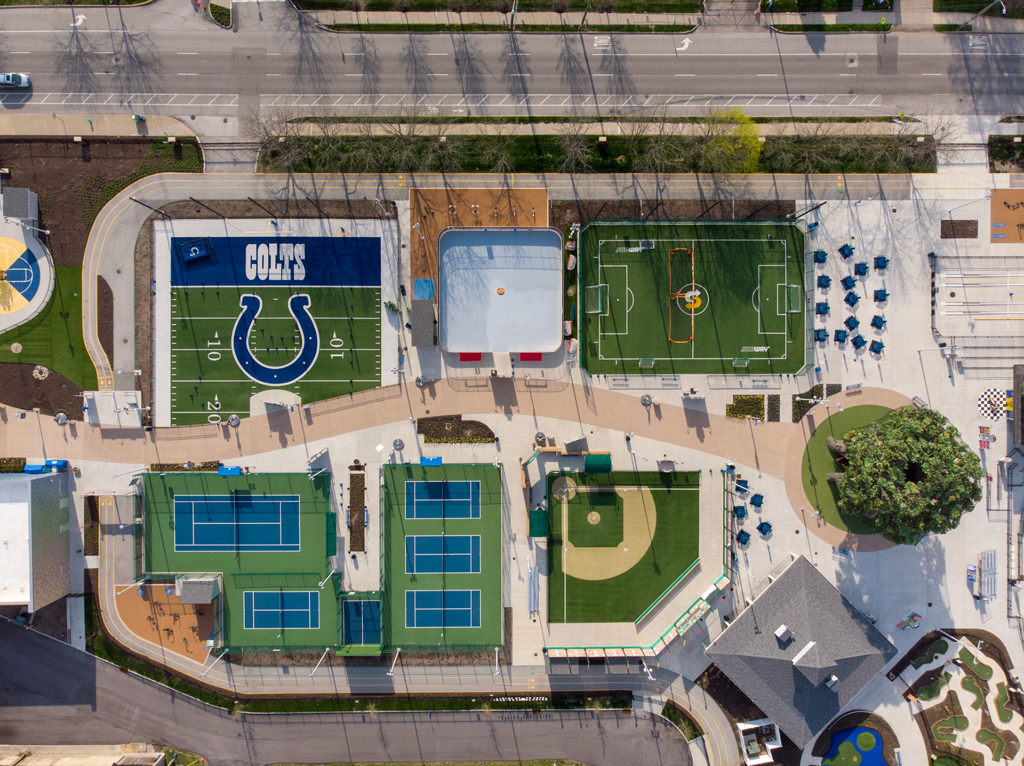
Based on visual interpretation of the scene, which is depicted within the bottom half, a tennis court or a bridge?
tennis court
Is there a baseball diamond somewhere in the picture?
Yes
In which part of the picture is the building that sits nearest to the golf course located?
bottom right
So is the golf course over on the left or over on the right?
right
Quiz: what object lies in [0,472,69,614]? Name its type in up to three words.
building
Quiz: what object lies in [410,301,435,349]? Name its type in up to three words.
shed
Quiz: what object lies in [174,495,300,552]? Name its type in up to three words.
tennis court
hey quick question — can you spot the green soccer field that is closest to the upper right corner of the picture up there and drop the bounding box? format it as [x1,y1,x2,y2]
[579,222,806,377]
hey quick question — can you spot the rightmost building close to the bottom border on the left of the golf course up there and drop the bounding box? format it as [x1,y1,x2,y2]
[701,554,899,750]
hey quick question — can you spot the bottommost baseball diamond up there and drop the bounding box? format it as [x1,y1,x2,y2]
[549,472,699,623]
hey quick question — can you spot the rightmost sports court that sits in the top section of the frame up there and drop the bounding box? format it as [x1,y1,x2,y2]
[436,224,564,353]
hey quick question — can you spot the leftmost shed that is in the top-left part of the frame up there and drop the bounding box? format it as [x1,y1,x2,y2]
[0,188,37,220]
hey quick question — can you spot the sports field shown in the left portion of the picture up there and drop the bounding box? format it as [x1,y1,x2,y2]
[153,219,398,428]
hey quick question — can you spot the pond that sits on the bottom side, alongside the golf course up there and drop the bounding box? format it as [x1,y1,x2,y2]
[812,710,902,766]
